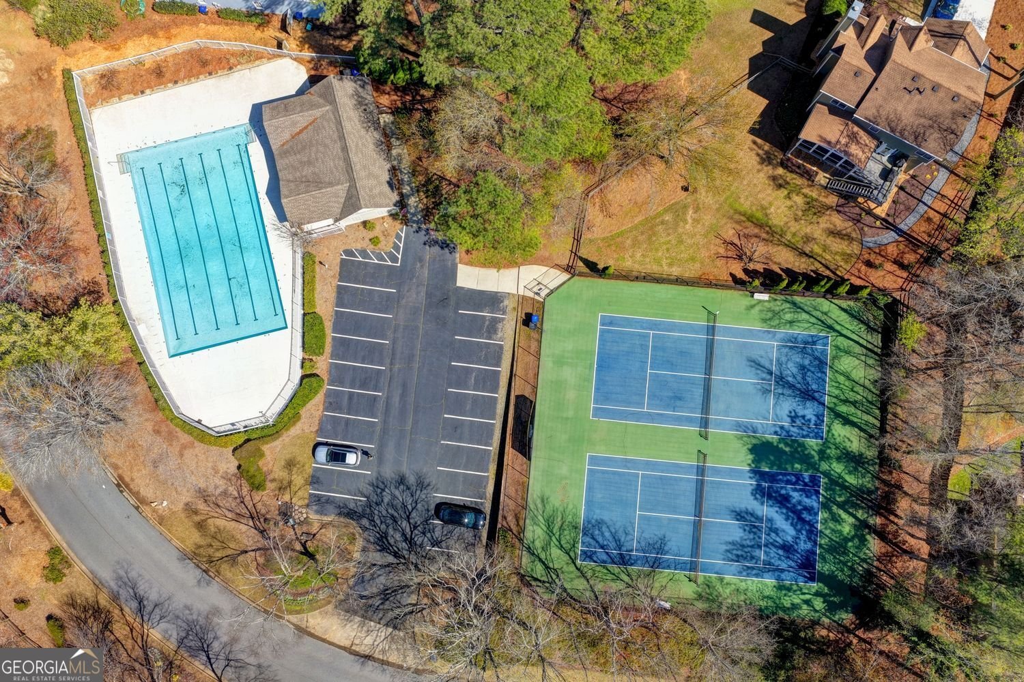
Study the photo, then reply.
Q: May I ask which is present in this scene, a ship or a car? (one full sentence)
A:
There is a car in the scene.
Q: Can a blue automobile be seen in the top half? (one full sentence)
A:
Yes, I can see a blue automobile in the top half.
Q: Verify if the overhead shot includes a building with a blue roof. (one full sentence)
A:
No, I find no building with a blue roof anywhere in the image.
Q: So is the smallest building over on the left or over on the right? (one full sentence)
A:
It is on the left.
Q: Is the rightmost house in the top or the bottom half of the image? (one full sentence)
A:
The top half of the photo is where the rightmost house is.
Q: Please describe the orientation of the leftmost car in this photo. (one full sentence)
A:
The leftmost car runs horizontally in the image.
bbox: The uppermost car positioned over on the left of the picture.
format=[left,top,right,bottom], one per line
[314,445,360,468]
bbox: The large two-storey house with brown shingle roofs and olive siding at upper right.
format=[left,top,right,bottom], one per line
[783,0,991,210]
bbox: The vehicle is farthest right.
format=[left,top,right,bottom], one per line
[932,0,960,20]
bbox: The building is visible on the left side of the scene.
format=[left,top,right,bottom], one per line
[262,75,400,229]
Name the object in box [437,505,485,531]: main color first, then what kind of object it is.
black car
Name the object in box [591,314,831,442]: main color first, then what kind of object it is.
blue tennis court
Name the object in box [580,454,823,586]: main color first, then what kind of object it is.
blue tennis court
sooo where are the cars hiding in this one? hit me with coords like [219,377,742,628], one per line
[932,0,960,20]
[437,505,485,531]
[314,445,360,468]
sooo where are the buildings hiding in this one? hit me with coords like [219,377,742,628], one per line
[262,75,400,229]
[783,0,991,210]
